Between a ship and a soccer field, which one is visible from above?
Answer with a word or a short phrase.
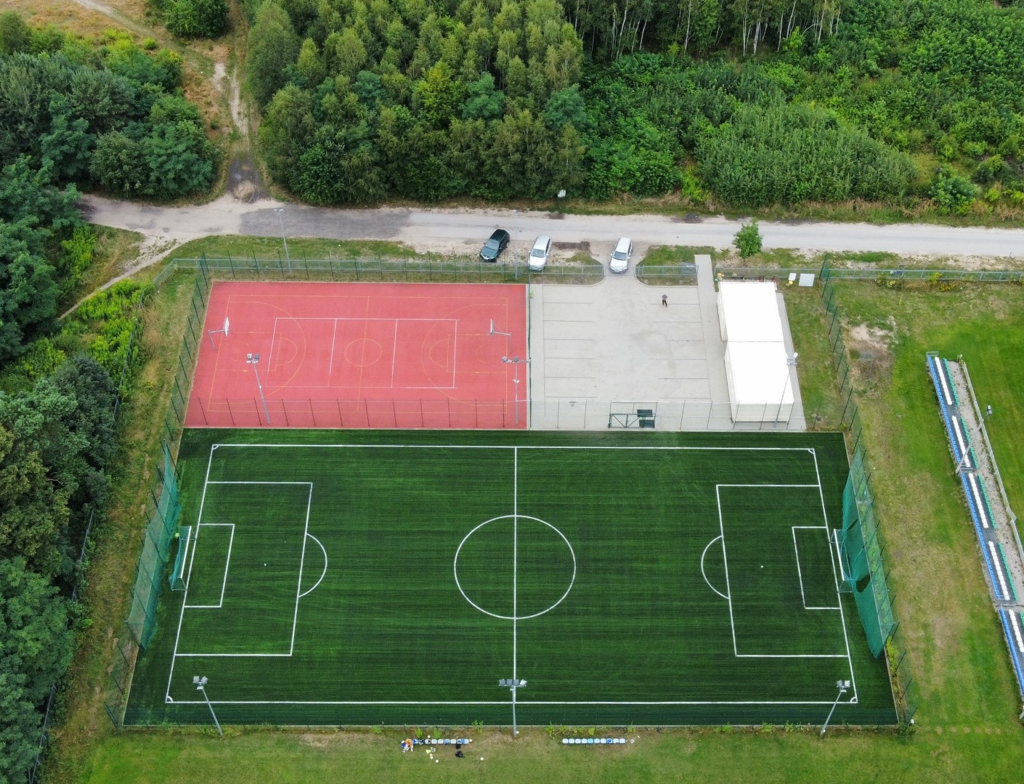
soccer field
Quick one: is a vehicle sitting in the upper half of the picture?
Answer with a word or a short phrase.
Yes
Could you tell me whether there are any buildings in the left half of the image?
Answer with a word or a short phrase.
No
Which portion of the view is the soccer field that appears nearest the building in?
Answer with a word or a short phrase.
bottom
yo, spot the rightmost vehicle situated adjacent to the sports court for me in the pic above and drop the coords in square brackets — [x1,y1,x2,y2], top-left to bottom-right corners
[528,231,554,270]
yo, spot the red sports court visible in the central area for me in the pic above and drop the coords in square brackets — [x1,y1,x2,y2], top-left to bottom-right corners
[182,281,806,431]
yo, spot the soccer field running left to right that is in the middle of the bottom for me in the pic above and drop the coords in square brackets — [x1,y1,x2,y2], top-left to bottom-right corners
[120,428,901,729]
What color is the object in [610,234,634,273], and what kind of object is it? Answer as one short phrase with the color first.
white car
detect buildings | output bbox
[718,282,793,421]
